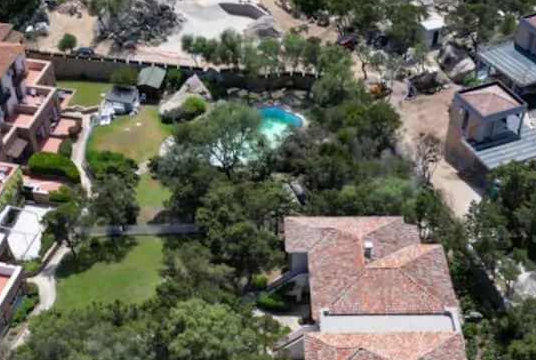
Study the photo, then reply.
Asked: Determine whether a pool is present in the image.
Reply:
Yes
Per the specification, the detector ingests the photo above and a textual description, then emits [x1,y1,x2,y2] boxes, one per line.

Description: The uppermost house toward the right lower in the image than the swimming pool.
[269,216,465,334]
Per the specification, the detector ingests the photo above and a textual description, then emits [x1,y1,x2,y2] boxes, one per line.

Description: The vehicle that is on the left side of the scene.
[73,39,103,54]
